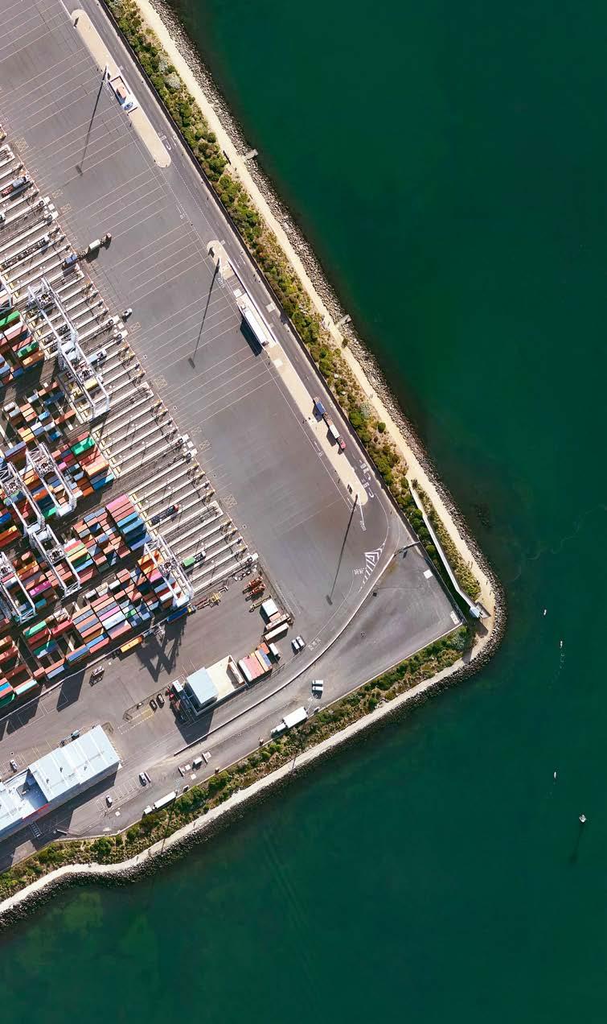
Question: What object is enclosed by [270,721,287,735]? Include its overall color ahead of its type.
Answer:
white vehicle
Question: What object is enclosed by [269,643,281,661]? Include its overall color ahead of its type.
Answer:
white vehicle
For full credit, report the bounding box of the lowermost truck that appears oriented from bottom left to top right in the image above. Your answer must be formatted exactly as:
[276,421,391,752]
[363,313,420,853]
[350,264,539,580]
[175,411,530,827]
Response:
[143,792,176,815]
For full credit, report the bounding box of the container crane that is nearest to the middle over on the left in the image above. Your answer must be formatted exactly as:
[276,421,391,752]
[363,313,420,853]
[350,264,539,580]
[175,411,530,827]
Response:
[141,536,197,611]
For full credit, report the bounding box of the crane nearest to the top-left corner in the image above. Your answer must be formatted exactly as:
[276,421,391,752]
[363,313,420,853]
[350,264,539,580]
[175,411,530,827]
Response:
[25,277,81,354]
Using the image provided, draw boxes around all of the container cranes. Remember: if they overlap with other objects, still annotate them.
[28,523,85,603]
[0,552,38,627]
[25,277,81,354]
[0,463,46,540]
[141,536,197,611]
[57,338,113,417]
[22,443,79,520]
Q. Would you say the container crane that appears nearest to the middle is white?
Yes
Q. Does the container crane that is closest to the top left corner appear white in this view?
Yes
